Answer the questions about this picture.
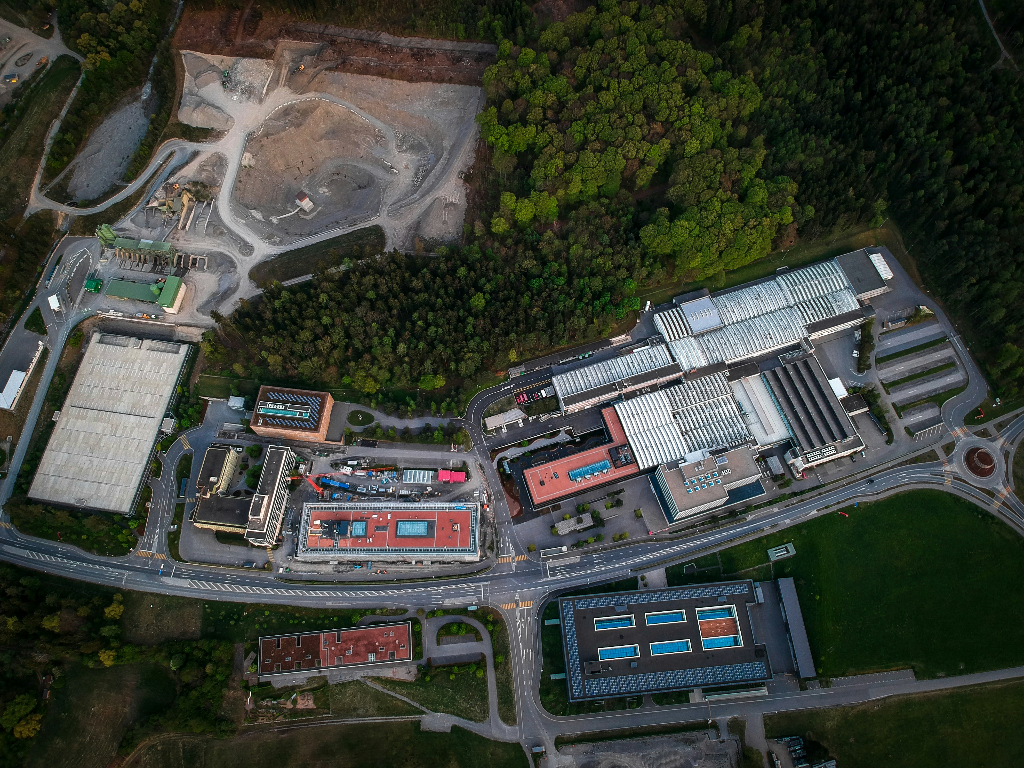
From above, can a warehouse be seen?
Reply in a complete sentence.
Yes, a warehouse is visible in the scene.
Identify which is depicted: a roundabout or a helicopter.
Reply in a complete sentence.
It is a roundabout that can be seen here.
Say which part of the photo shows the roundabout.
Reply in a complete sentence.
The roundabout appears toward the right of the photo.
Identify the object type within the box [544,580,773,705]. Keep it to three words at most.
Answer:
building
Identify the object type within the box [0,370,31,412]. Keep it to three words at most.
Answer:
shed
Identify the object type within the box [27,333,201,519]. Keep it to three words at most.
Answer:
warehouse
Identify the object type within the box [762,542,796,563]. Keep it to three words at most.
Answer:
house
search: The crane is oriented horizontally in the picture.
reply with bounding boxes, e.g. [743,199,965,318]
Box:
[286,466,394,501]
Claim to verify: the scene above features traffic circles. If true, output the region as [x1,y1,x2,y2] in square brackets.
[952,436,1007,490]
